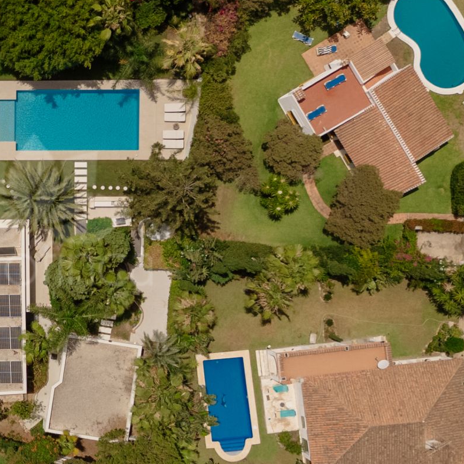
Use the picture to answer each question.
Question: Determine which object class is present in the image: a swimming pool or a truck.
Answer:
swimming pool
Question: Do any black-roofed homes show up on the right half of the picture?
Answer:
No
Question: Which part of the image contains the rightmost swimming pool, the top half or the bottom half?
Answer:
top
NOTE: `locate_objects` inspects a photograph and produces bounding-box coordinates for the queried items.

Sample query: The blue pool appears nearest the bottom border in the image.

[196,350,261,462]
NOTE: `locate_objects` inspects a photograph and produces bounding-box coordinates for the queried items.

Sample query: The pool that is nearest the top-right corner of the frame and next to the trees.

[387,0,464,95]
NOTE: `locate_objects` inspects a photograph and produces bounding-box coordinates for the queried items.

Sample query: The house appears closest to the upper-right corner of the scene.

[266,39,454,207]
